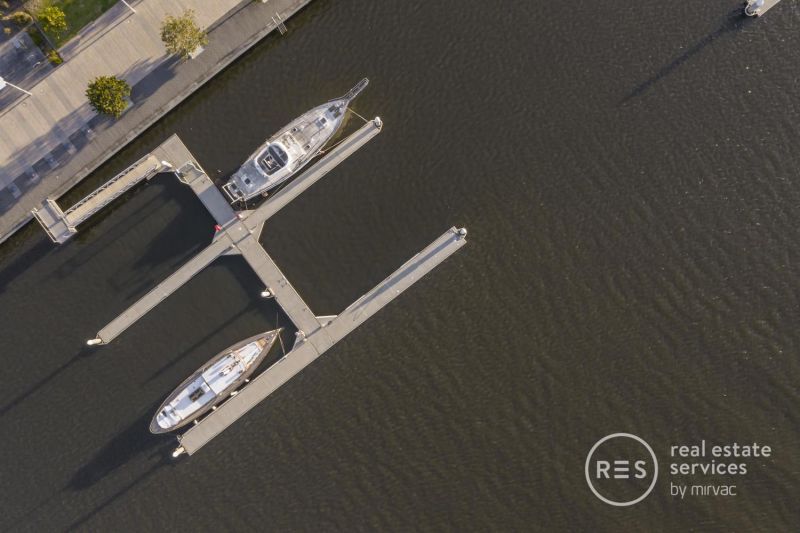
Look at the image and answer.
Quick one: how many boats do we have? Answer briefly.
2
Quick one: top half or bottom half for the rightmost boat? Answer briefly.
top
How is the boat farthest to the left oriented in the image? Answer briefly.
at an angle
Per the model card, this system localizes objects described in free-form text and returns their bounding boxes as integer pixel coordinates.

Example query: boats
[150,329,284,434]
[223,75,369,204]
